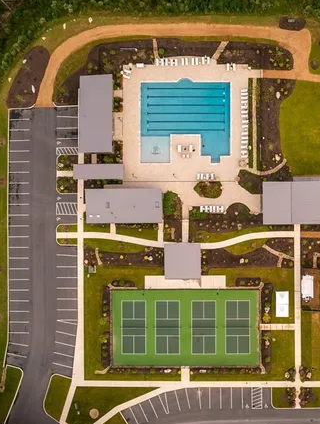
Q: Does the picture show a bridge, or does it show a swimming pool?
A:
swimming pool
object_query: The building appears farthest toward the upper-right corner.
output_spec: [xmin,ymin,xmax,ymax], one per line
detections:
[262,181,320,225]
